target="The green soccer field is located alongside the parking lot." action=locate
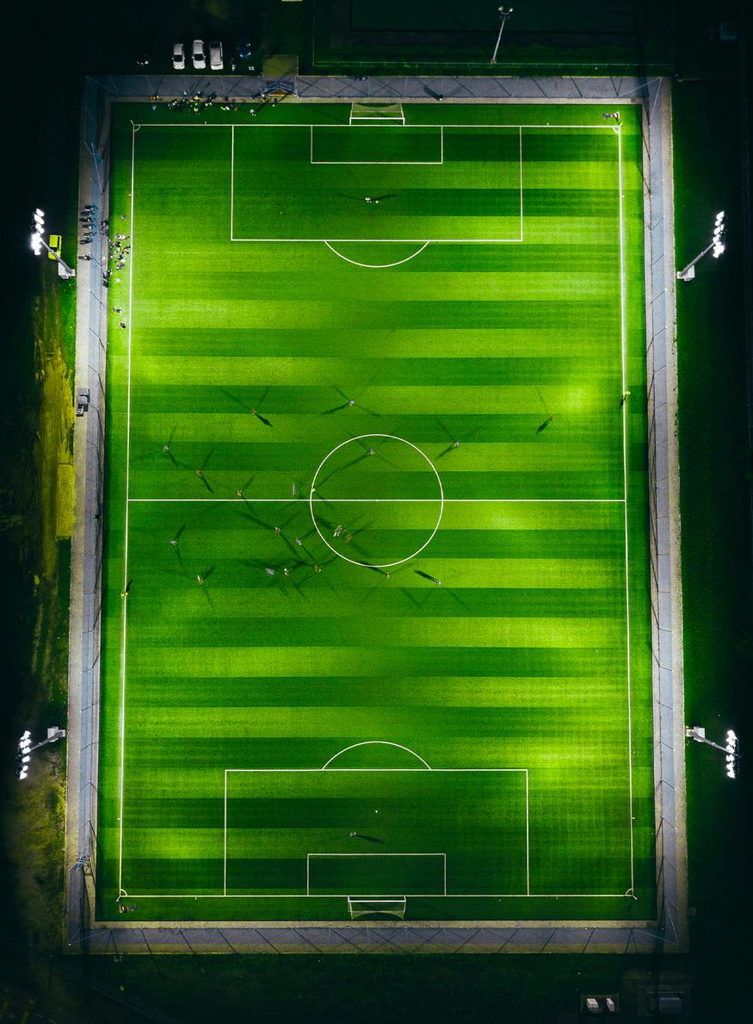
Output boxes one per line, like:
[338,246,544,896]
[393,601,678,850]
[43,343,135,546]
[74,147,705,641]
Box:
[95,102,658,922]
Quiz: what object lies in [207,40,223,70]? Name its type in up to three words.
car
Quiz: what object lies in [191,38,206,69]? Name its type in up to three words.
car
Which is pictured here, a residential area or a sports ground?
sports ground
